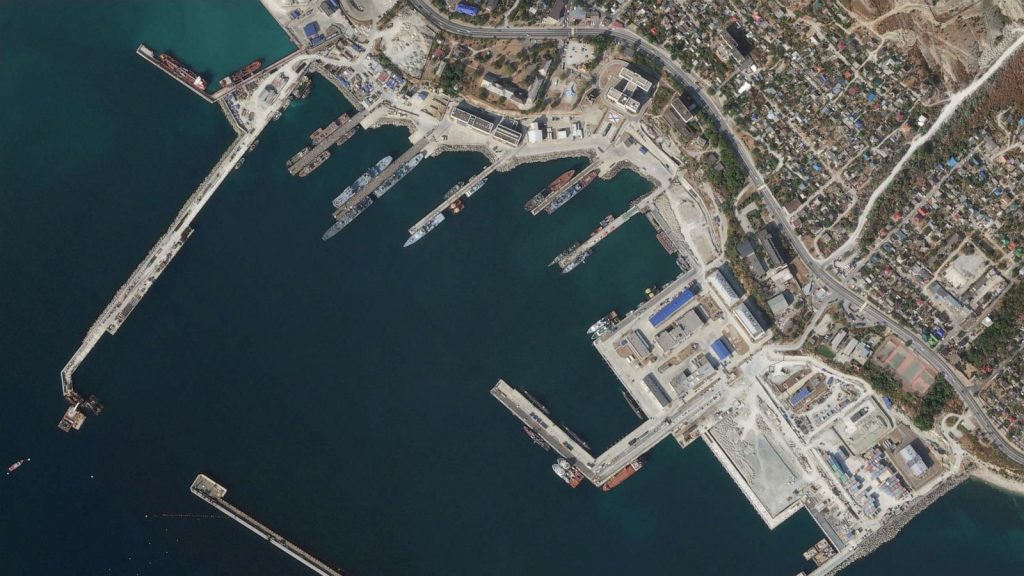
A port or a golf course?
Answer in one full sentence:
This image shows a port.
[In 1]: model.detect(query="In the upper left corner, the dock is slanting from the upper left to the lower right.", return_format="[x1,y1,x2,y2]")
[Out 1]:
[136,44,213,104]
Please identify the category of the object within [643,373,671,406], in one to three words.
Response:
building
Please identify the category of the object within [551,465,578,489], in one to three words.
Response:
boat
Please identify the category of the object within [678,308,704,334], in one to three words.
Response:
building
